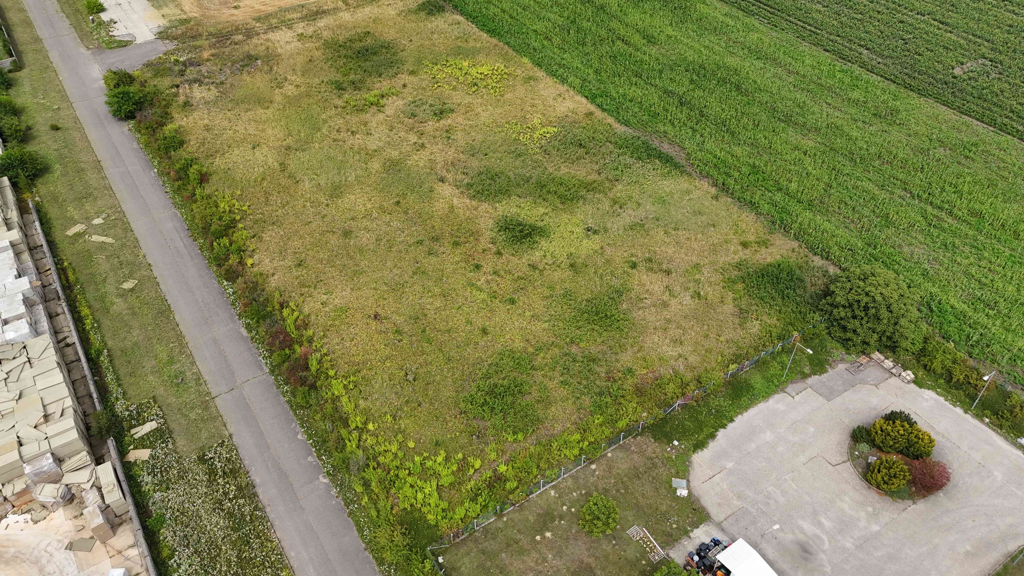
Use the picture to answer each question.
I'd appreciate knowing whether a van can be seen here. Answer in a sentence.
No, I find no van anywhere in the image.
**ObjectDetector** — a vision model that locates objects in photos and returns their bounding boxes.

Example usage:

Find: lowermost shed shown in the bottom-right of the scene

[713,538,780,576]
